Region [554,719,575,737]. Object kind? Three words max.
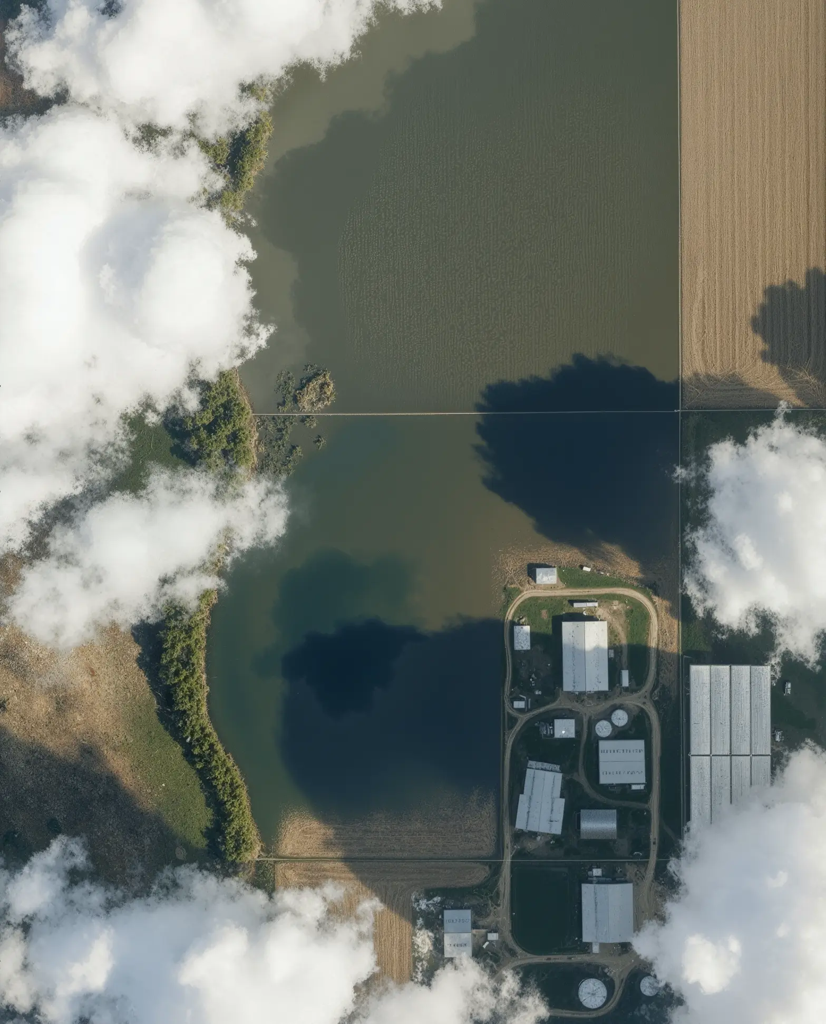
shed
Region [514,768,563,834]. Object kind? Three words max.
barn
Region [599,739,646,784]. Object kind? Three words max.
barn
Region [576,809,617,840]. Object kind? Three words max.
shed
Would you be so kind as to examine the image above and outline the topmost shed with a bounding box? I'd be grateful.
[536,568,557,584]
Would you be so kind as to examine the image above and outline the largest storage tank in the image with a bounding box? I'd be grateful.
[578,978,607,1008]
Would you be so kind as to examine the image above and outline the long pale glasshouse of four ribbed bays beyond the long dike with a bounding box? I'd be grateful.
[690,665,771,848]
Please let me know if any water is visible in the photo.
Yes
